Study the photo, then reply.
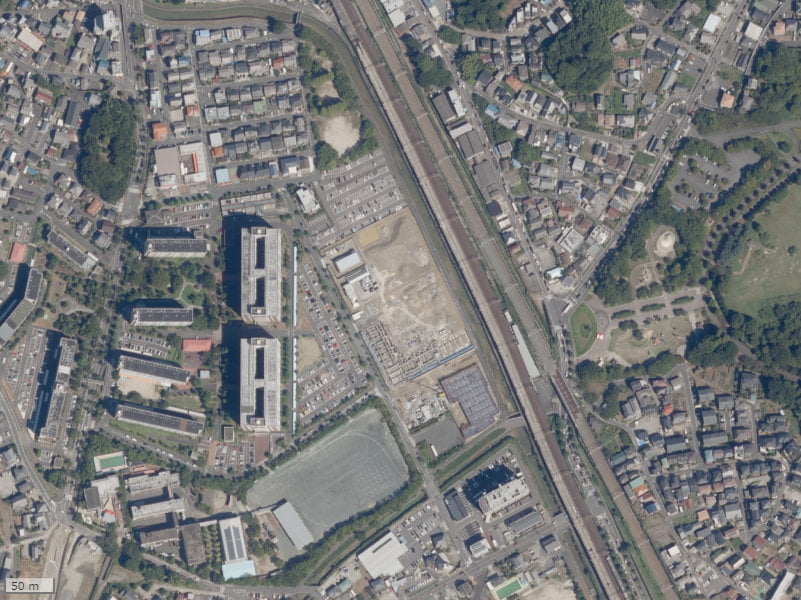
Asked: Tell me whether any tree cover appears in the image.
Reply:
Yes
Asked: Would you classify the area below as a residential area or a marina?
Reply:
residential area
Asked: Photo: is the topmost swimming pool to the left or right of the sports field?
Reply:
left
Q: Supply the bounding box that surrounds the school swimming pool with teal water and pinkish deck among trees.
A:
[95,451,128,472]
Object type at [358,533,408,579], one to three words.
building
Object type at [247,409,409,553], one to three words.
sports field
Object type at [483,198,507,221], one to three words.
house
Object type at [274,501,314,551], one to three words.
building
